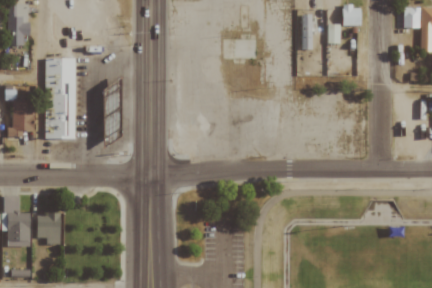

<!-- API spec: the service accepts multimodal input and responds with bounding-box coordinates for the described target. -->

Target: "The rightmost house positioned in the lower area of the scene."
[36,211,60,246]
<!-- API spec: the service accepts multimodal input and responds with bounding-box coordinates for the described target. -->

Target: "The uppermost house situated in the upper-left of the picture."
[14,4,30,46]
